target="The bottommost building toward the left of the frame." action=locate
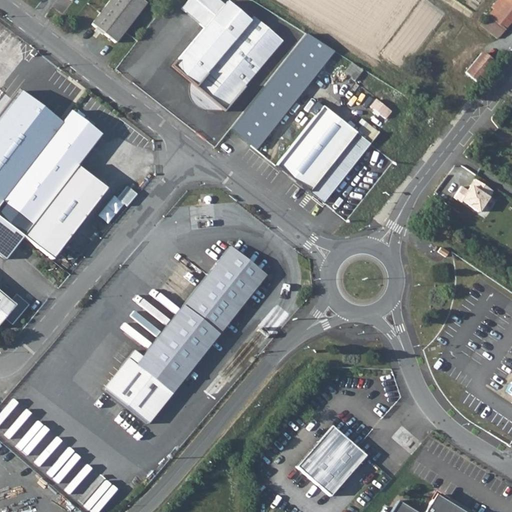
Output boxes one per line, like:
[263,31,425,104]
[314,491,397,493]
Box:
[104,358,174,422]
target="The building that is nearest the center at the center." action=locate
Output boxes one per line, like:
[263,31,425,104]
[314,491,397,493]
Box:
[184,246,267,333]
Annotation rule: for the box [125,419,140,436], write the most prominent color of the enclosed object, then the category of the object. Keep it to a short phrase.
white vehicle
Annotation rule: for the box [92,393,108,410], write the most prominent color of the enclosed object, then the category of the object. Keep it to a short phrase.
white vehicle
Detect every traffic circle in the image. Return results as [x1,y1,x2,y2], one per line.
[320,236,406,322]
